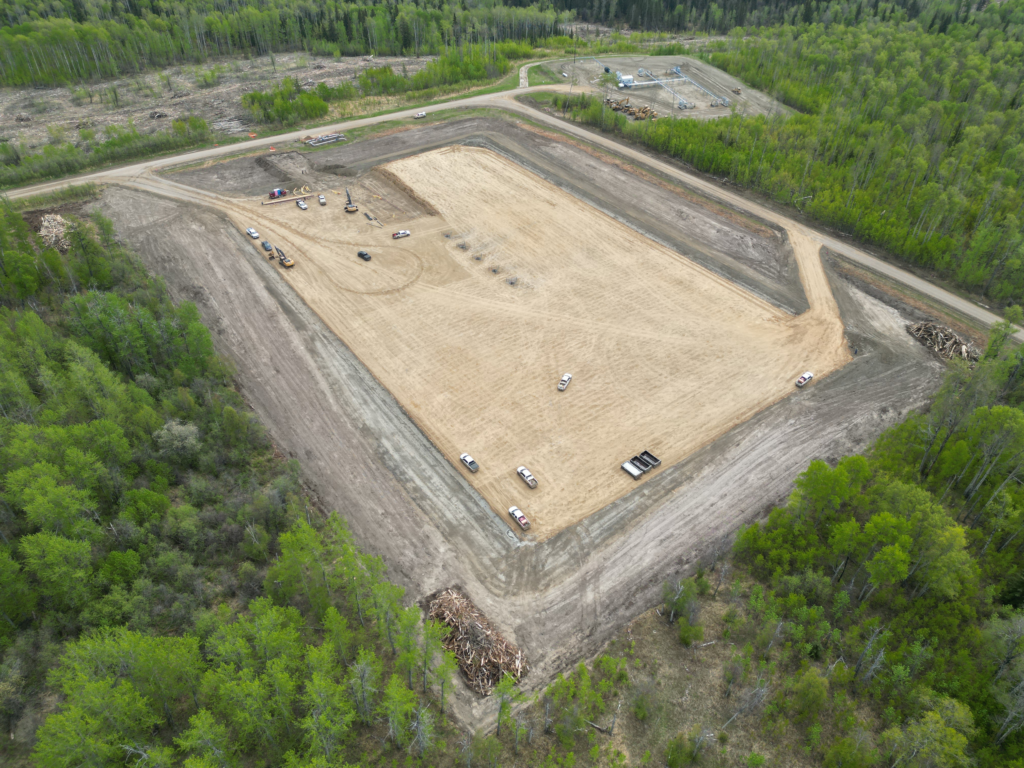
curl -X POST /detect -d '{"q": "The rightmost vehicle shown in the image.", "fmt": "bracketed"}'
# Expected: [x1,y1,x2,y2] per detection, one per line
[795,374,813,388]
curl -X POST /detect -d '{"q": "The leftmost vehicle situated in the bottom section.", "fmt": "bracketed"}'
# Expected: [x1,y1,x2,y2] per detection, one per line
[460,454,480,474]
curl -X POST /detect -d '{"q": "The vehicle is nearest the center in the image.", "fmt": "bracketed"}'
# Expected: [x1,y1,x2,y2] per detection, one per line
[558,375,572,391]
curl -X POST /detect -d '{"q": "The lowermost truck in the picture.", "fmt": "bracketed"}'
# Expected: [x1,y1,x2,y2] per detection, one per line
[509,507,532,531]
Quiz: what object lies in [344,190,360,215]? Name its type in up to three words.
work vehicle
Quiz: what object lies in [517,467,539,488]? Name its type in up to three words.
truck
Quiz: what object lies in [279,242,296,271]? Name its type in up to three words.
work vehicle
